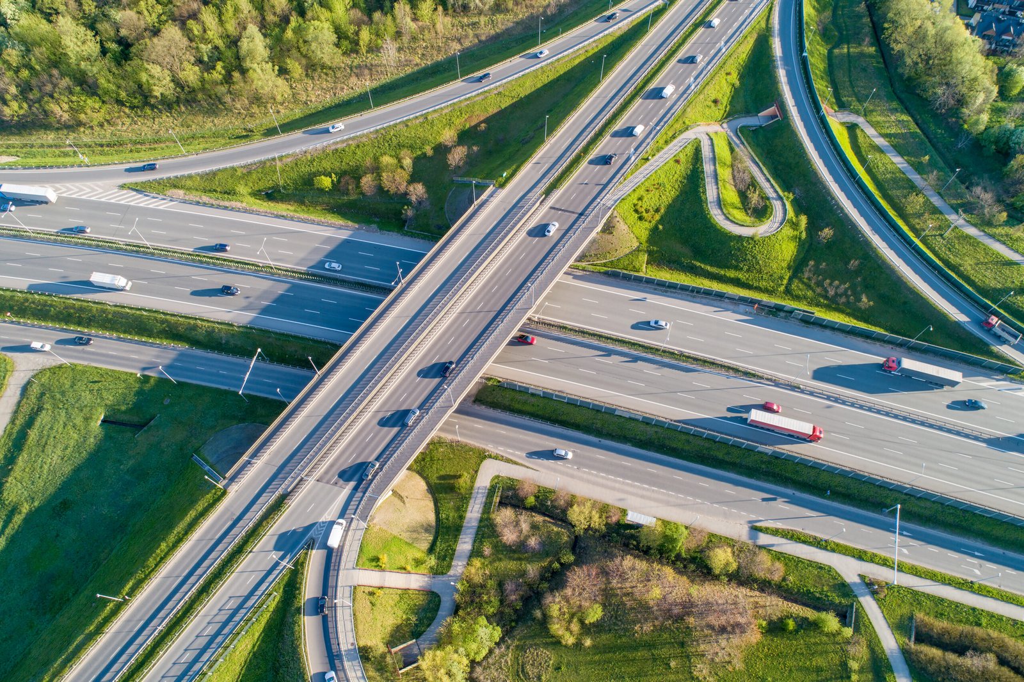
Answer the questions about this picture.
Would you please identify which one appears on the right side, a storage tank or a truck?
truck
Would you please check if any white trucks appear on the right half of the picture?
Yes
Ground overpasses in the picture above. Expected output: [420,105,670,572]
[221,160,620,538]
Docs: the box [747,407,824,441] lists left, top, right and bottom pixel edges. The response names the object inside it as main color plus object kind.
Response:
white truck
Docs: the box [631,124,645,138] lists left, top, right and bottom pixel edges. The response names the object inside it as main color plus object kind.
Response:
white car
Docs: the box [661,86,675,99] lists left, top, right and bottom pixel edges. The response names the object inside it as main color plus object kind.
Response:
white vehicle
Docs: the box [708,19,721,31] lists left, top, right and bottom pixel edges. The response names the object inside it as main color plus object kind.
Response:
white vehicle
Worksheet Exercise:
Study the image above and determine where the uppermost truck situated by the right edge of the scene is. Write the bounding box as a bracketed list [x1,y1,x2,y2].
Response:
[988,315,1024,348]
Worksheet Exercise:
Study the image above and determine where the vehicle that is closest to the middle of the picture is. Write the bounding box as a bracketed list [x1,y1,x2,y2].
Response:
[518,334,538,346]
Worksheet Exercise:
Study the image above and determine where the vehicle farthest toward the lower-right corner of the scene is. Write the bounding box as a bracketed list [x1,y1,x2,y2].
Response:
[965,399,985,411]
